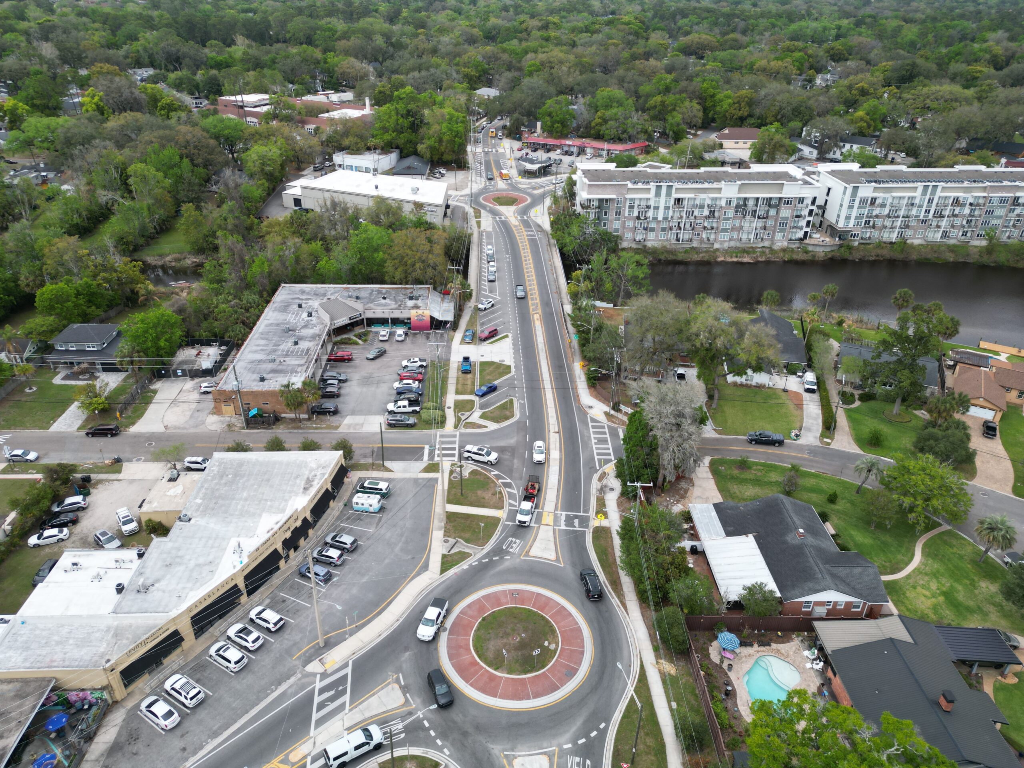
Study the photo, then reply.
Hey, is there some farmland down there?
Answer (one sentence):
No, no farmland is visible.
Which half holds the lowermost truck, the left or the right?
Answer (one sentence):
You can find the lowermost truck on the left side of the picture.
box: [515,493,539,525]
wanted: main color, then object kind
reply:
white truck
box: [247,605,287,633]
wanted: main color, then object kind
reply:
white car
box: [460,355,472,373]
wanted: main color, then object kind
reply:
blue vehicle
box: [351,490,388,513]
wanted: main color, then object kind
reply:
white camper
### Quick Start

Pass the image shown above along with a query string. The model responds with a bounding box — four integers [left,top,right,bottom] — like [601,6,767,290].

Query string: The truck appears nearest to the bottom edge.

[323,725,384,768]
